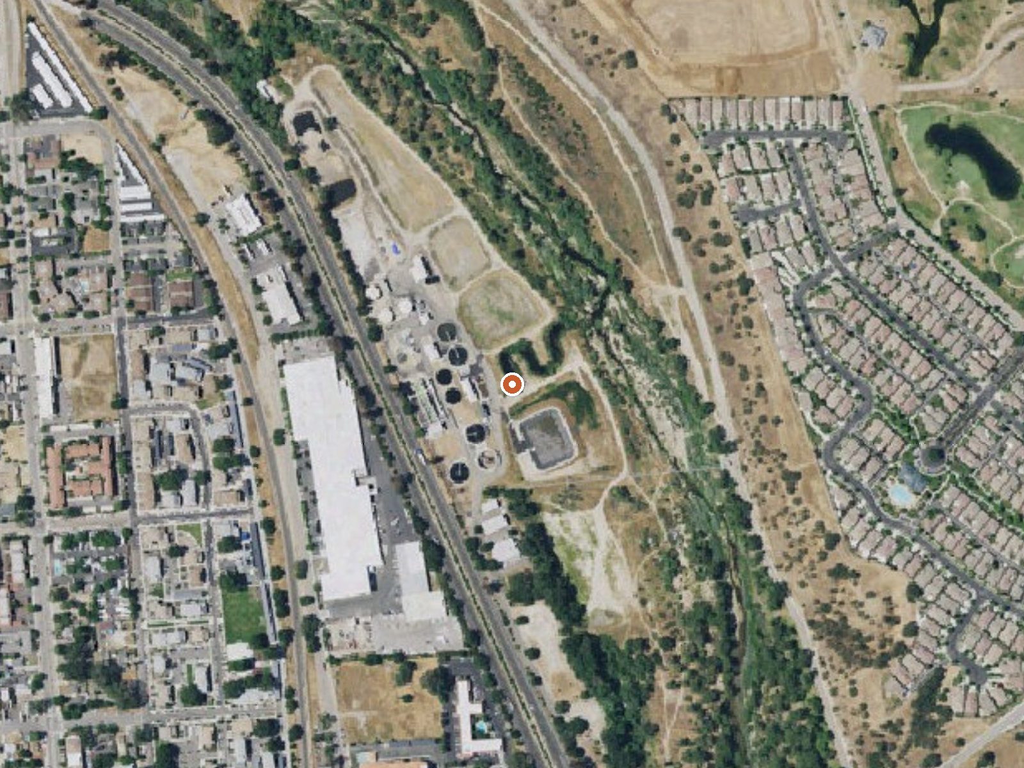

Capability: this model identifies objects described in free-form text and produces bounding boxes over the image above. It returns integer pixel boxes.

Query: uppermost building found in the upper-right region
[862,24,888,49]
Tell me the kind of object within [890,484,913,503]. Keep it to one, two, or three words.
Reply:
swimming pool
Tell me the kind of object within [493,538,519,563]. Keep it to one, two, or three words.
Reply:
shed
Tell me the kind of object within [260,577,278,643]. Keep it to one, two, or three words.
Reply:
building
